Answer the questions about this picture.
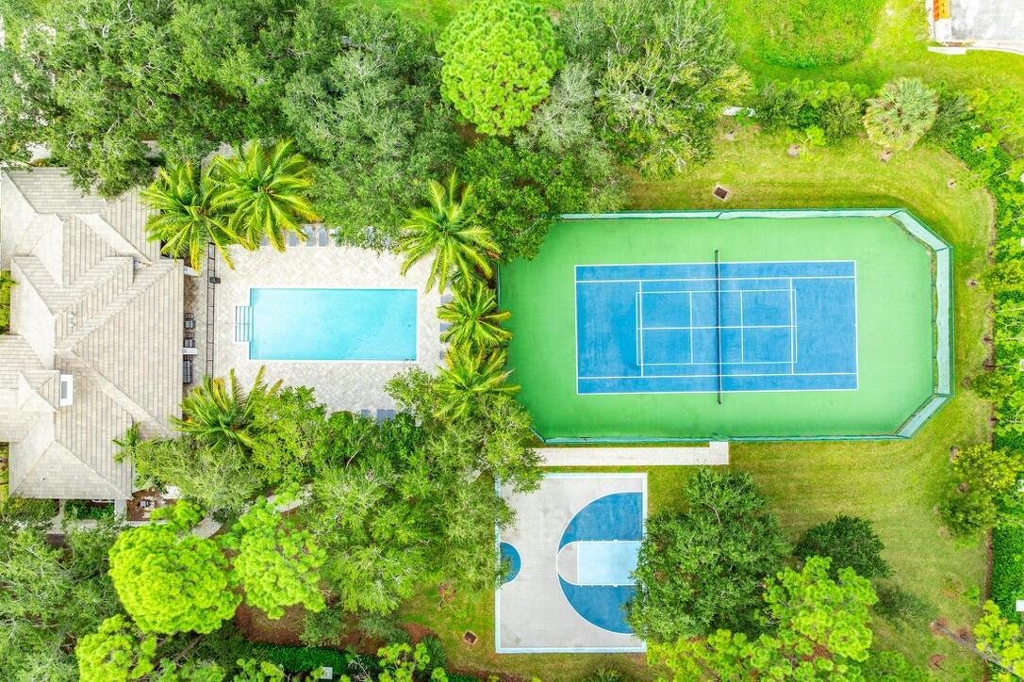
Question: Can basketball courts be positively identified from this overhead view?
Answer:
Yes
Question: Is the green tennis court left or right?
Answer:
right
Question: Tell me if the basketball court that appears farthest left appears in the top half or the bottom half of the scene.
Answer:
bottom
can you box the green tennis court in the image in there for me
[499,217,931,437]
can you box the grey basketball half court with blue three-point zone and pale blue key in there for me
[496,473,647,654]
